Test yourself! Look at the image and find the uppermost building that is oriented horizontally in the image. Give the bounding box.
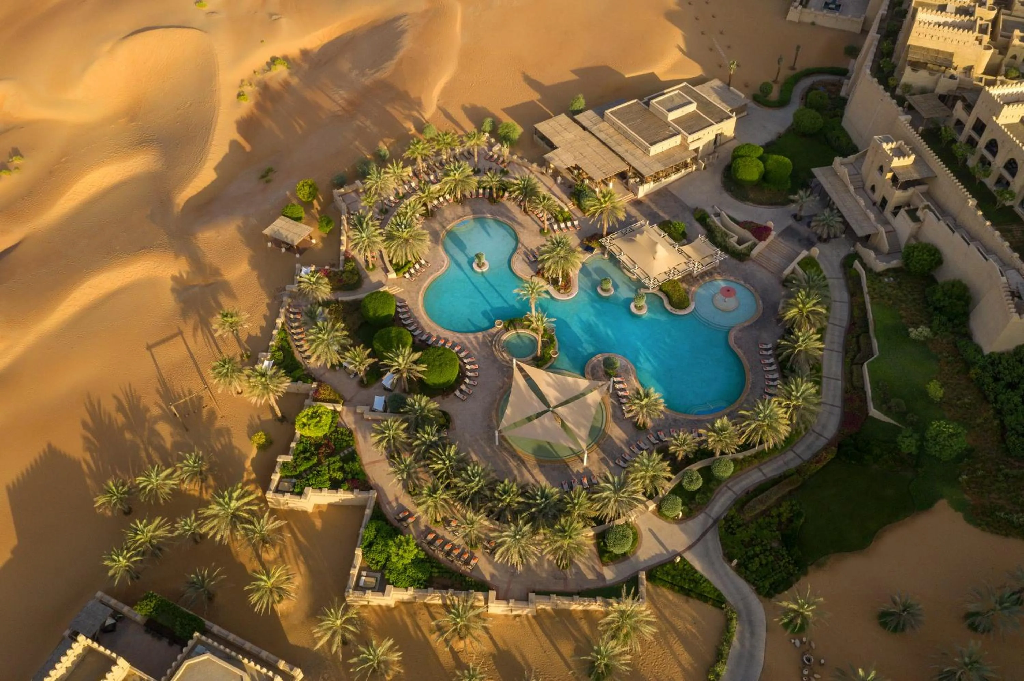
[787,0,869,34]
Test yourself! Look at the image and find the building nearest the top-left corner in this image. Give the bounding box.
[261,216,314,257]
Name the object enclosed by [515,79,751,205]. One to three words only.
building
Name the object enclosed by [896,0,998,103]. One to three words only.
house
